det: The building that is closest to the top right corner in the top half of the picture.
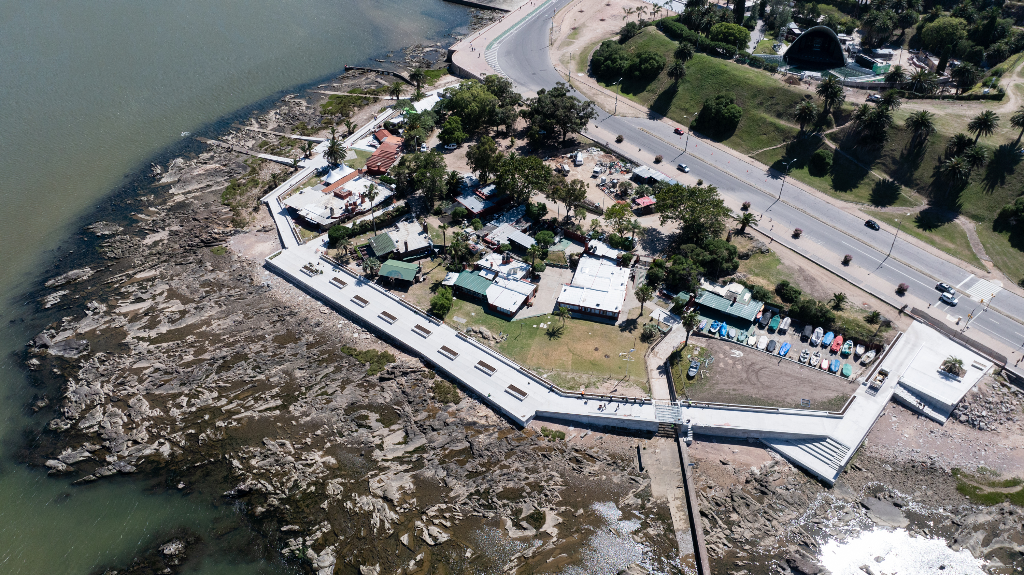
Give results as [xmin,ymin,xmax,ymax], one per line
[910,51,939,72]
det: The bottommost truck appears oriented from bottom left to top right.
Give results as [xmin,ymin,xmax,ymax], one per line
[864,361,895,393]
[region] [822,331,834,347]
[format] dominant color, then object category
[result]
blue boat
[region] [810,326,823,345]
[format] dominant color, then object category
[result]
white boat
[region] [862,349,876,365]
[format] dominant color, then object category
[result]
white boat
